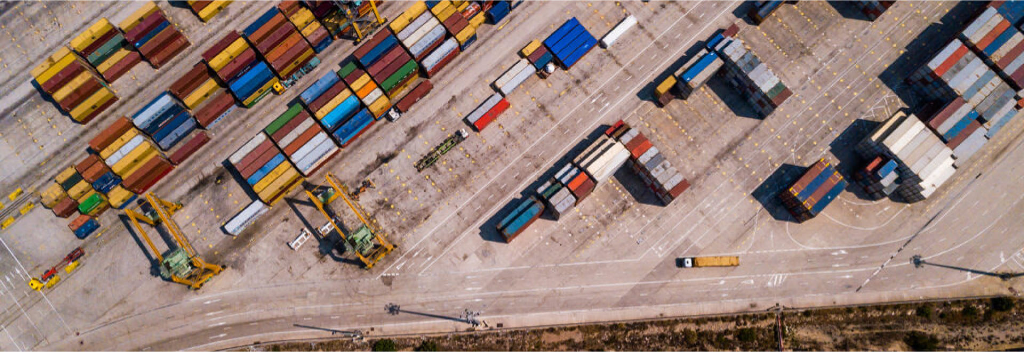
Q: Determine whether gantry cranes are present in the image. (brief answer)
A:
Yes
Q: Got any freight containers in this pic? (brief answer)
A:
Yes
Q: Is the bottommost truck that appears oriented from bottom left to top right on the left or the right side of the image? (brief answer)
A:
left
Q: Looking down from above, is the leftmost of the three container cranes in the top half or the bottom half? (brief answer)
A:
bottom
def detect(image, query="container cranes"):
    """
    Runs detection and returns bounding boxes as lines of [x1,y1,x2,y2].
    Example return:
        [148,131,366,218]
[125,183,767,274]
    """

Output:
[332,0,389,46]
[305,171,401,273]
[123,190,230,293]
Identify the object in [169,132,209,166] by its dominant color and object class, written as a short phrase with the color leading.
red shipping container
